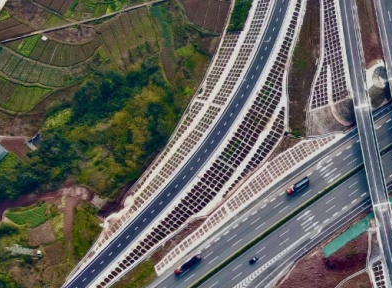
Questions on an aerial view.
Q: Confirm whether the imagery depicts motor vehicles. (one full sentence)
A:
Yes, the frame does contain a motor vehicle.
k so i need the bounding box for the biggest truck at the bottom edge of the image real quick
[173,253,200,275]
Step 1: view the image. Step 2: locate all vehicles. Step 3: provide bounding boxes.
[173,253,200,275]
[286,176,309,194]
[247,255,257,265]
